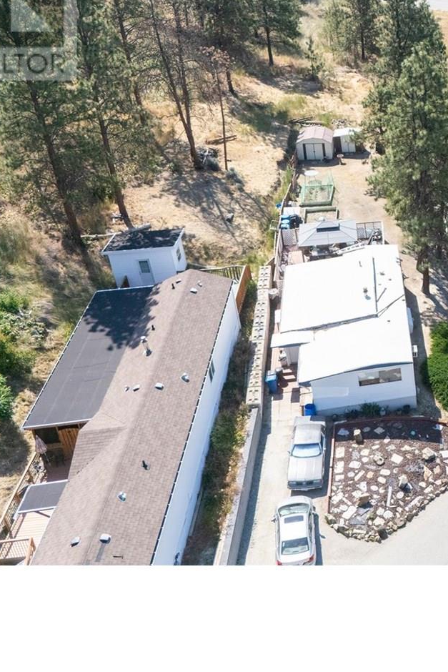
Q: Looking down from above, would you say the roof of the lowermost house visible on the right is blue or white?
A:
white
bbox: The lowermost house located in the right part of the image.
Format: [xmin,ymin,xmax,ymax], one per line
[267,243,418,439]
